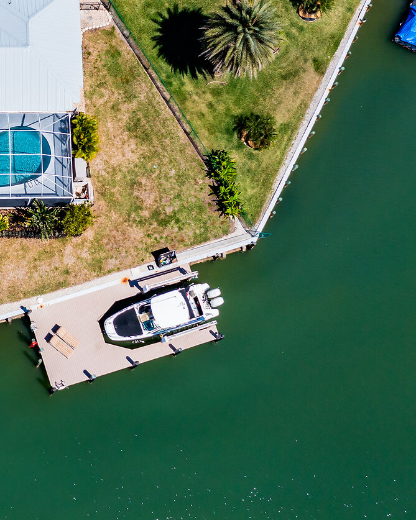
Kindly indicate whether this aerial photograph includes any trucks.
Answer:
No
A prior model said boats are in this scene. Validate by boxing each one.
[390,5,416,52]
[104,286,221,336]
